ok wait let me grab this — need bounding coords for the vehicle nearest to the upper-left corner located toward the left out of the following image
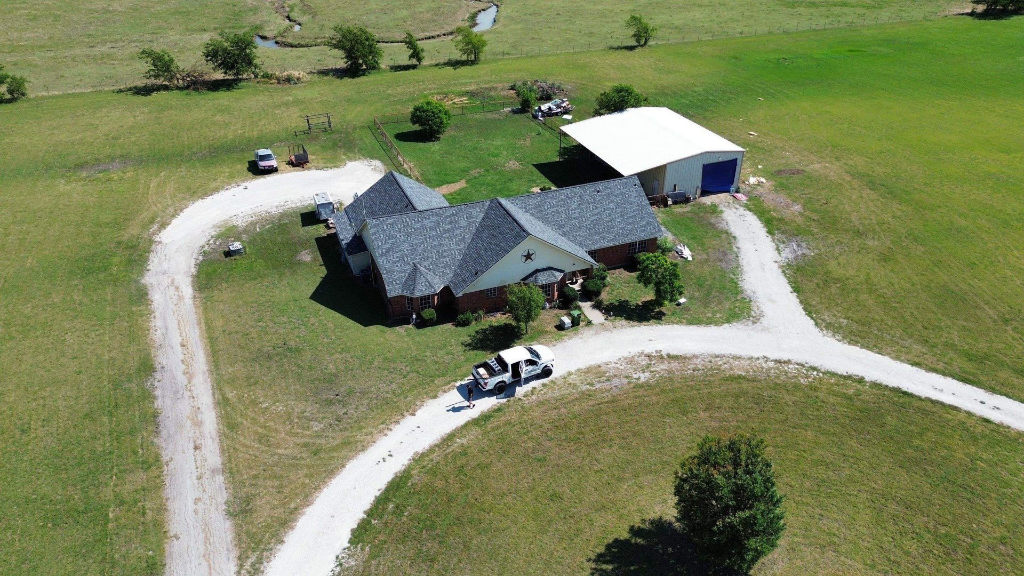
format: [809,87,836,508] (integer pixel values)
[255,145,276,170]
